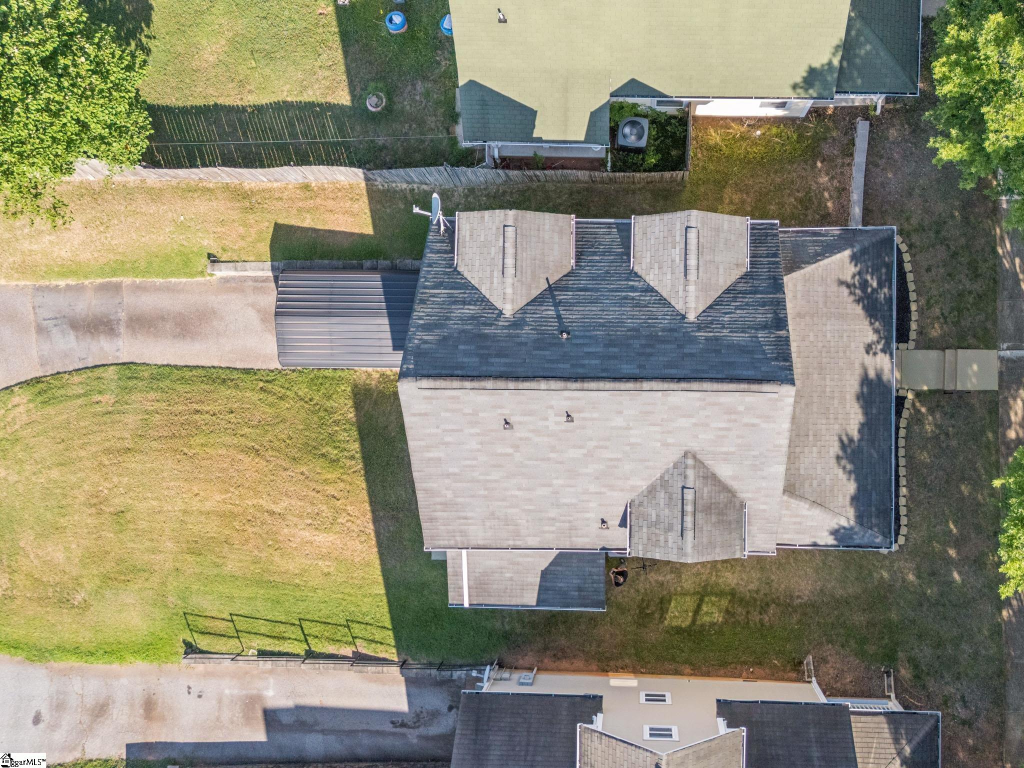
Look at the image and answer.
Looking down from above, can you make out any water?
No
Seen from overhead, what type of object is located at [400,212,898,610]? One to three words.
house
